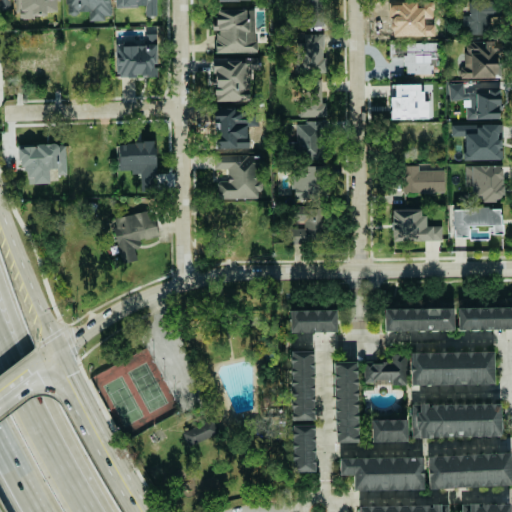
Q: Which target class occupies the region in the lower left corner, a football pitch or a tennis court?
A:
tennis court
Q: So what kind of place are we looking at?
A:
residential area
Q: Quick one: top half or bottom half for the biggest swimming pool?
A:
bottom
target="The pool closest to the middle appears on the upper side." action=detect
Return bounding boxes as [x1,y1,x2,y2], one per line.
[278,172,290,190]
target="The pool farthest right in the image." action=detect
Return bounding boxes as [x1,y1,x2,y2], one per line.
[470,226,491,242]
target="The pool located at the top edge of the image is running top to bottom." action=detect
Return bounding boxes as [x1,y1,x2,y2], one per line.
[256,8,268,43]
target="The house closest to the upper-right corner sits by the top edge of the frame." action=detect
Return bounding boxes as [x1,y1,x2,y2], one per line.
[464,0,498,34]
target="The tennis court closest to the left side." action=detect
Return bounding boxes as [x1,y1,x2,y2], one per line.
[104,377,144,426]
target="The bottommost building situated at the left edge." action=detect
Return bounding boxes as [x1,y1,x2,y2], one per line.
[19,144,66,184]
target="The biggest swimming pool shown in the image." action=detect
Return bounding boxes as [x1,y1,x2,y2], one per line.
[214,356,258,418]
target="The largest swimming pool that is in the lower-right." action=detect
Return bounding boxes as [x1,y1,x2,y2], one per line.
[364,386,404,412]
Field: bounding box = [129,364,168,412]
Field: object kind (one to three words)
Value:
tennis court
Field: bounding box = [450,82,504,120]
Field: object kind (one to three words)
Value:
house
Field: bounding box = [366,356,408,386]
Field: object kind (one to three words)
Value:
building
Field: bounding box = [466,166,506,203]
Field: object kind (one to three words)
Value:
house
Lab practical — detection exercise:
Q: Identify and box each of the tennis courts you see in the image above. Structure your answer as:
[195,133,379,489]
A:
[104,377,144,426]
[129,364,168,412]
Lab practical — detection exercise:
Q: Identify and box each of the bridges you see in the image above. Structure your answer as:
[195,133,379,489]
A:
[0,348,64,420]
